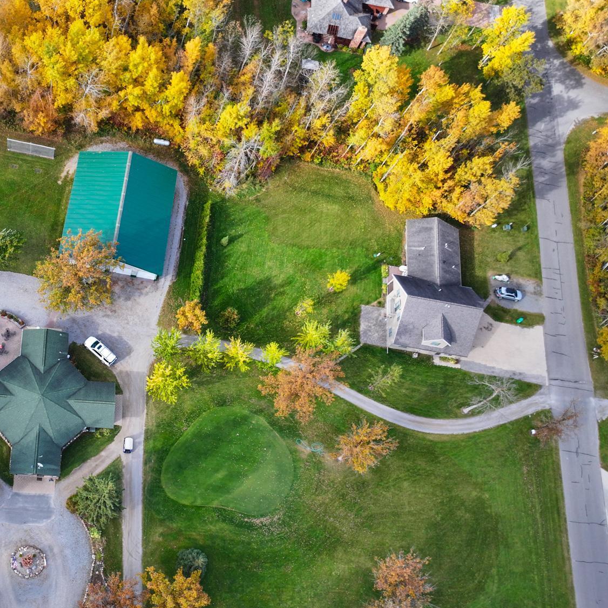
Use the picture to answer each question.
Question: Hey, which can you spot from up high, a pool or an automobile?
automobile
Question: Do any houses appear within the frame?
Yes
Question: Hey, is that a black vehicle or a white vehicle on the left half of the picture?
white vehicle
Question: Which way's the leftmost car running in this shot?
at an angle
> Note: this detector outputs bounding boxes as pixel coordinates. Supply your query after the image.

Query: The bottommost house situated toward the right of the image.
[382,218,483,360]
